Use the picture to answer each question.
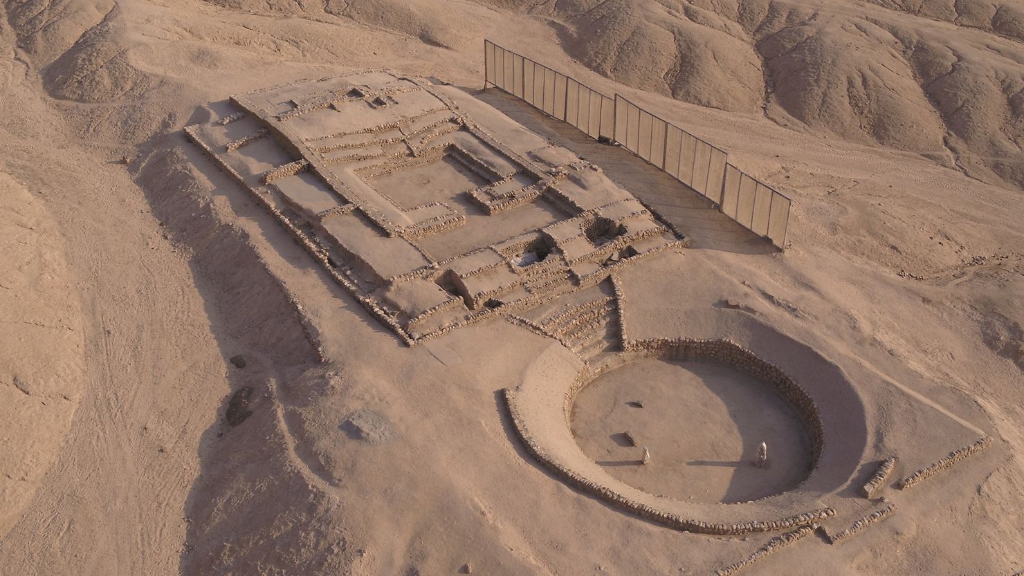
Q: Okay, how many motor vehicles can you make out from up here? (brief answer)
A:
0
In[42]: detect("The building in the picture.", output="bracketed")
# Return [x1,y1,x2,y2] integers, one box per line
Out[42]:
[183,70,690,352]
